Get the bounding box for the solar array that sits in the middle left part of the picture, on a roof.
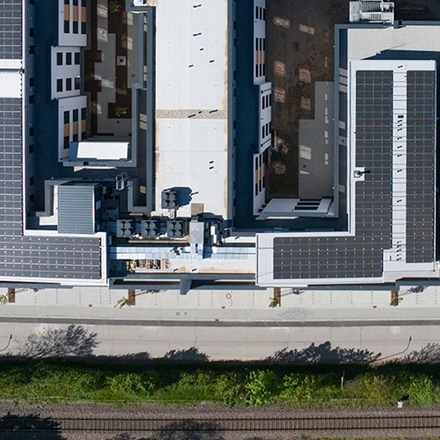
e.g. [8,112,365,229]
[0,98,105,278]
